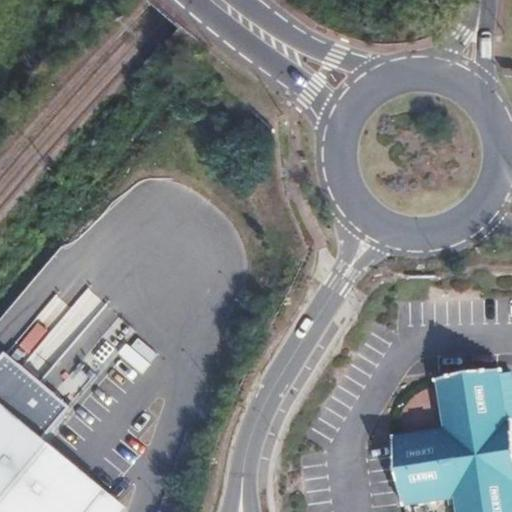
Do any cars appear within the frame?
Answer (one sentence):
Yes, the photo shows a car.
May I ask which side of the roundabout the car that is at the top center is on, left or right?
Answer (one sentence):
To the left of the roundabout is where the car that is at the top center appears.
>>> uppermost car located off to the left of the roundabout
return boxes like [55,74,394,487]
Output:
[285,66,306,86]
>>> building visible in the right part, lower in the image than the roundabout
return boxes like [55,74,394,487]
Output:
[389,366,512,512]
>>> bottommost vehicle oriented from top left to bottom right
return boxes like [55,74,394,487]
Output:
[92,468,114,486]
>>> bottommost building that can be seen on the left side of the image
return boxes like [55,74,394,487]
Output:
[0,398,132,512]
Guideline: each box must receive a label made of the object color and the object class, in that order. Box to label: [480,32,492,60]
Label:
white vehicle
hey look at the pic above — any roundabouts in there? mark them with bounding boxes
[315,50,512,260]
